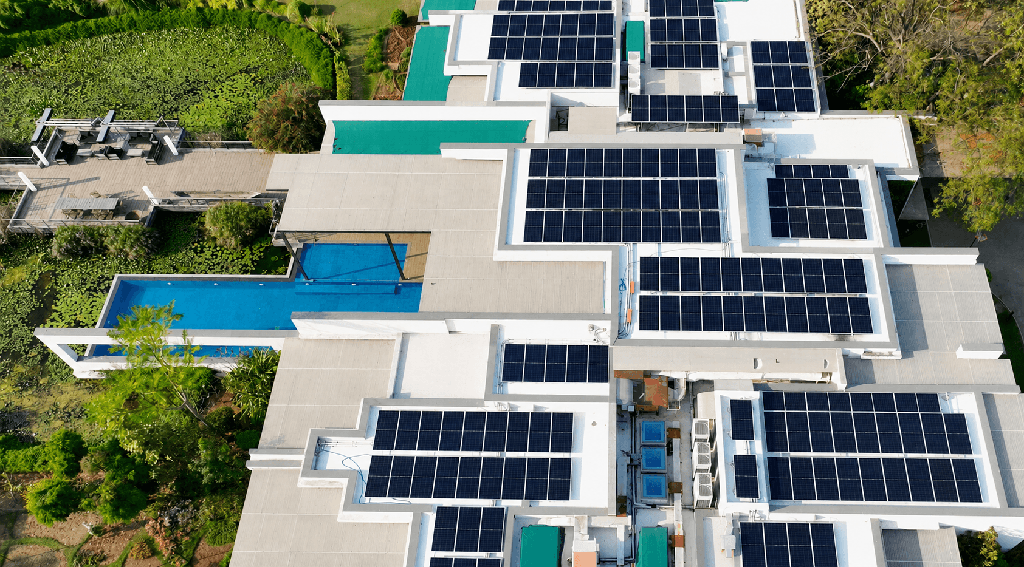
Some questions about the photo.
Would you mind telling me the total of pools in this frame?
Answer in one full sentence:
The picture shows just 1 pool.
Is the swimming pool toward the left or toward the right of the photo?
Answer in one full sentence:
The swimming pool is on the left side of the image.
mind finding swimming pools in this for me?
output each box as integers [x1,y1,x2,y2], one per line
[88,240,424,369]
